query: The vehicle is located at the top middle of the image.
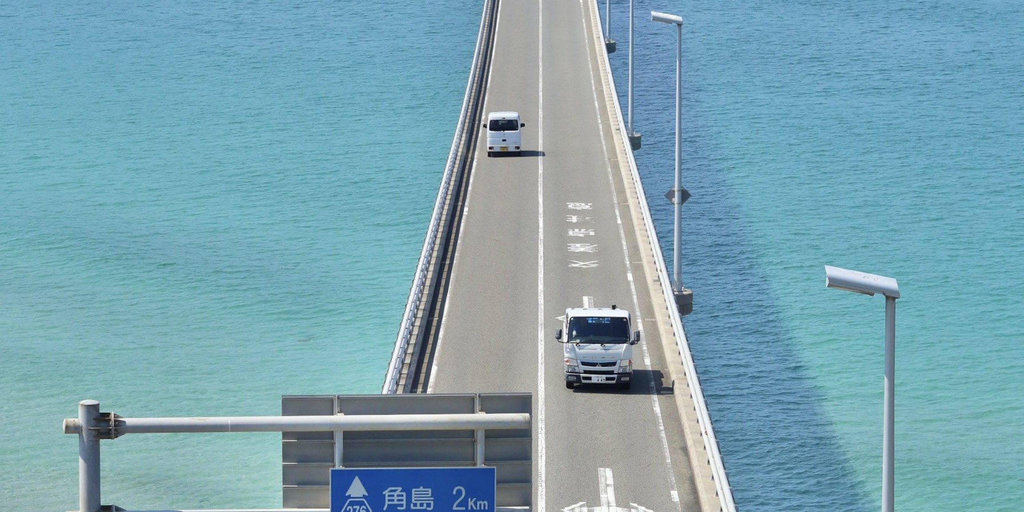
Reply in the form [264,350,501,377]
[483,111,525,157]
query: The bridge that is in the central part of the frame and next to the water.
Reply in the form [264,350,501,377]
[387,0,733,512]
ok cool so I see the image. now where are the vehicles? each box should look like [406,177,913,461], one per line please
[483,111,525,157]
[555,305,640,389]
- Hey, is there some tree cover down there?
No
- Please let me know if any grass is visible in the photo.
No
